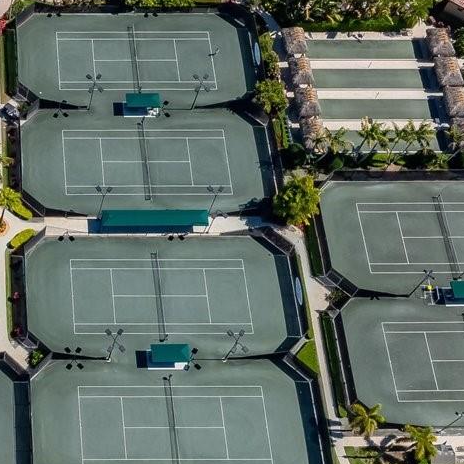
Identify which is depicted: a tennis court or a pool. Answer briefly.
tennis court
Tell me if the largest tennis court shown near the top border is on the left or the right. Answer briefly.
left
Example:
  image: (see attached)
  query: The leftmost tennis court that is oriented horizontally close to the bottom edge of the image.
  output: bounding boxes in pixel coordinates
[28,359,325,464]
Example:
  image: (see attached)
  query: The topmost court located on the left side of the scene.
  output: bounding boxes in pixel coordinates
[17,13,259,110]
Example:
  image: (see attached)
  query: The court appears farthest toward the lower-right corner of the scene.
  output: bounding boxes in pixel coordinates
[341,297,464,429]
